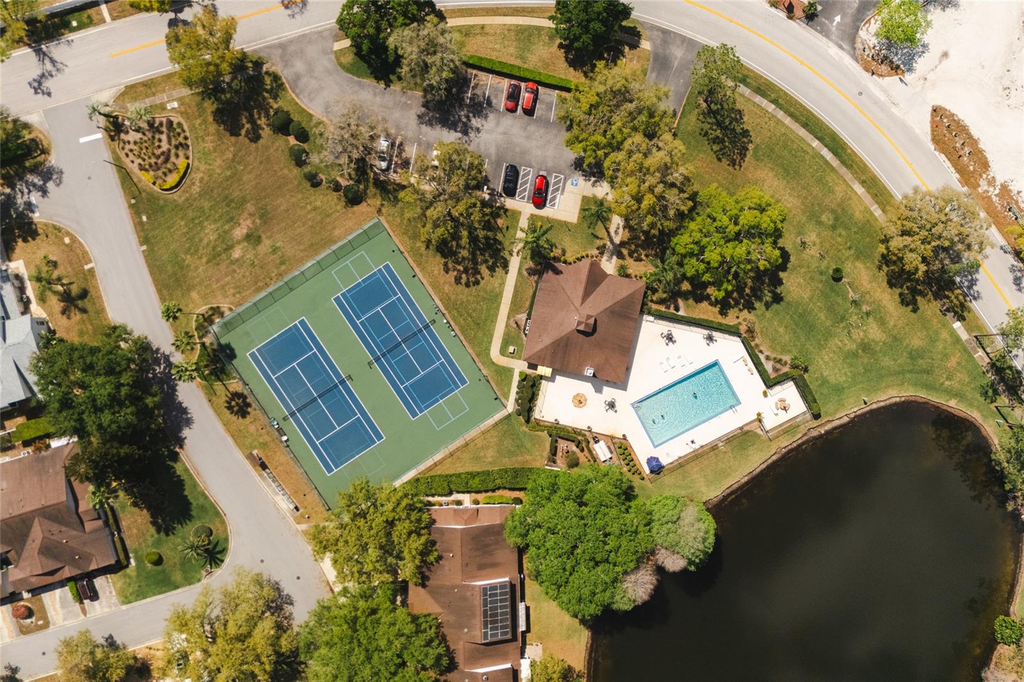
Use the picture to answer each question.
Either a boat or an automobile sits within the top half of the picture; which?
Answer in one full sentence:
The feature located within the top half of the picture is an automobile.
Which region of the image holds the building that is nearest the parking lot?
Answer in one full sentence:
The building that is nearest the parking lot is located in the center region of the scene.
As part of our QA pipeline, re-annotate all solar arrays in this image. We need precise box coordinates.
[482,584,509,641]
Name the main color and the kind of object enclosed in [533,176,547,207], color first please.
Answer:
red car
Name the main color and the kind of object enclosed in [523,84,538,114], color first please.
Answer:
red car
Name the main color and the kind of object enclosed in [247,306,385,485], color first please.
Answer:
blue tennis court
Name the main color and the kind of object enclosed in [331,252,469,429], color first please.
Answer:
blue tennis court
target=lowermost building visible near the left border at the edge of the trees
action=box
[0,447,119,596]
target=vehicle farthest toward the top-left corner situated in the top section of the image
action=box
[376,139,391,169]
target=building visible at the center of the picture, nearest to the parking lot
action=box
[523,259,645,383]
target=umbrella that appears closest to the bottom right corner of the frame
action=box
[648,459,666,476]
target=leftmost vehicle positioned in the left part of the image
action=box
[78,574,100,605]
